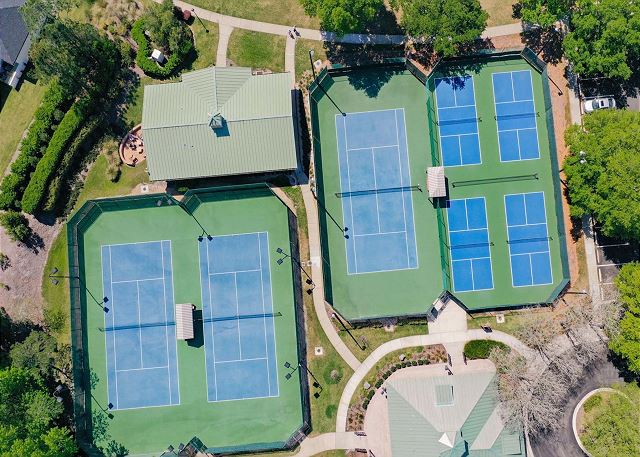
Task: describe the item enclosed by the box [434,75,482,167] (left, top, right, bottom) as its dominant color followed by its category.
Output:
blue sports court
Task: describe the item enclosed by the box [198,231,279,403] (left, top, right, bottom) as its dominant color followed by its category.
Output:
blue tennis court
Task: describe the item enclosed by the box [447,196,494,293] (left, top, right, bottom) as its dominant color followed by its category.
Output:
blue sports court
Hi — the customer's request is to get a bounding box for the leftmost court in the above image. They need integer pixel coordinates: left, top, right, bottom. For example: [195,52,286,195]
[101,239,179,411]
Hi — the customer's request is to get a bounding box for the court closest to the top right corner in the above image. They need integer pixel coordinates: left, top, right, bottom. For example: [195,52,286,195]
[492,69,540,162]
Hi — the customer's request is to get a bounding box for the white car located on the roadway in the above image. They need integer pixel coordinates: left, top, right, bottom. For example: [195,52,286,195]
[585,97,618,113]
